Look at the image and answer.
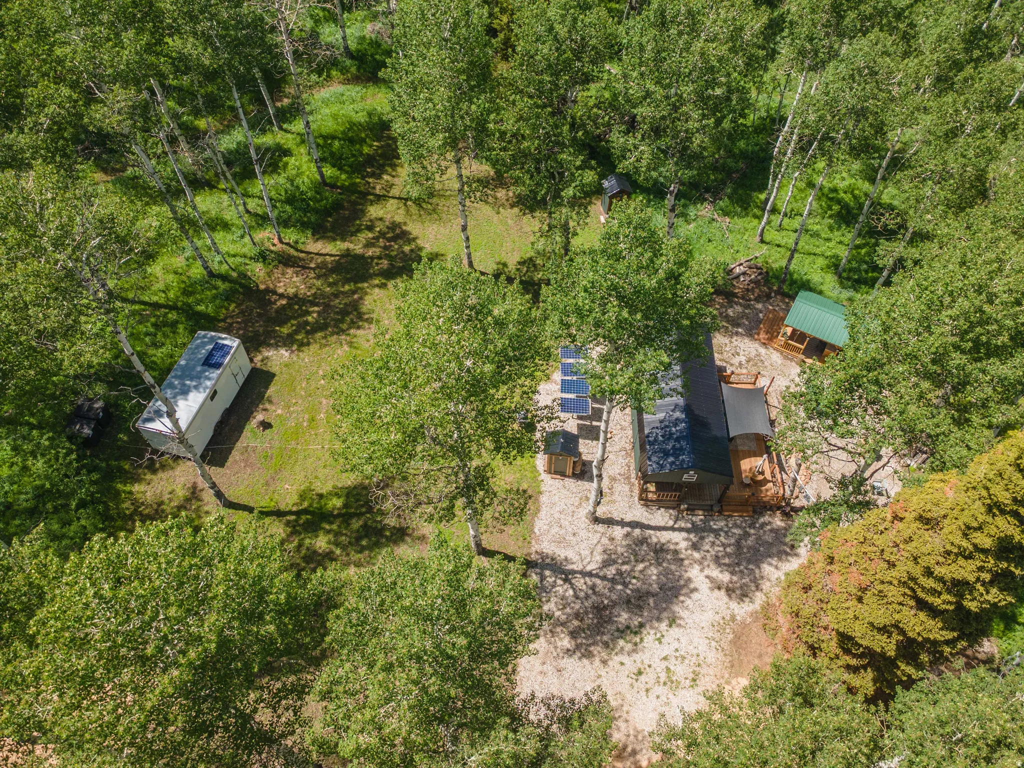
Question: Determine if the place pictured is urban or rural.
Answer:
rural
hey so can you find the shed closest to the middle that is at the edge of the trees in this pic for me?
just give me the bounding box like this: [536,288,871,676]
[545,431,578,476]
